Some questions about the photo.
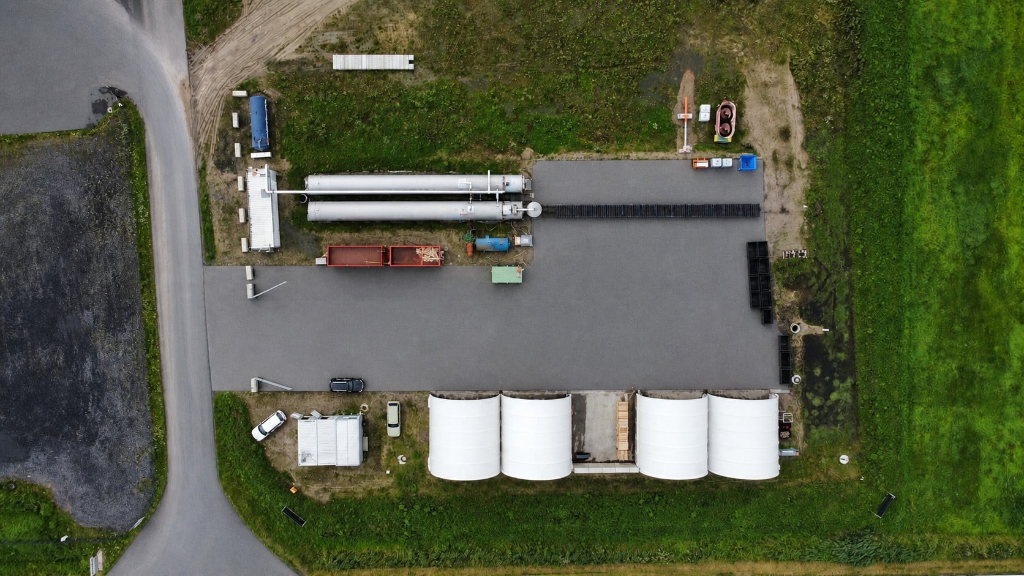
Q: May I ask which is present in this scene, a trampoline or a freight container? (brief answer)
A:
freight container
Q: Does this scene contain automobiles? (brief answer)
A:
Yes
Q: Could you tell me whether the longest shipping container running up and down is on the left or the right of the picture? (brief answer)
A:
left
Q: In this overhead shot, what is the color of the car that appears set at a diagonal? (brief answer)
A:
white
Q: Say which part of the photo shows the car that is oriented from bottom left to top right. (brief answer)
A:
bottom left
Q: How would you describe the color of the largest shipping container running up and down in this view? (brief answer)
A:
white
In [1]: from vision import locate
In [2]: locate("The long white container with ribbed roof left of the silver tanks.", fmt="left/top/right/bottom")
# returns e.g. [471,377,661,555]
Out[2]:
[247,167,286,252]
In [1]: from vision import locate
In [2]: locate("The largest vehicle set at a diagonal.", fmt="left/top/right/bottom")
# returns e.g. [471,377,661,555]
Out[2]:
[252,409,287,441]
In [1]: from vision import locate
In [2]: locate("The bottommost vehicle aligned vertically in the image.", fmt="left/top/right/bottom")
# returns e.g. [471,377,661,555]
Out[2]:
[385,400,402,437]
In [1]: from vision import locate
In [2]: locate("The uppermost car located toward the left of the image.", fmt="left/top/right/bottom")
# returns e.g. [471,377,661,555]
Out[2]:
[330,376,365,394]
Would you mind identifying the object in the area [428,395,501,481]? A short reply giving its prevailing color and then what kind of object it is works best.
white tent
